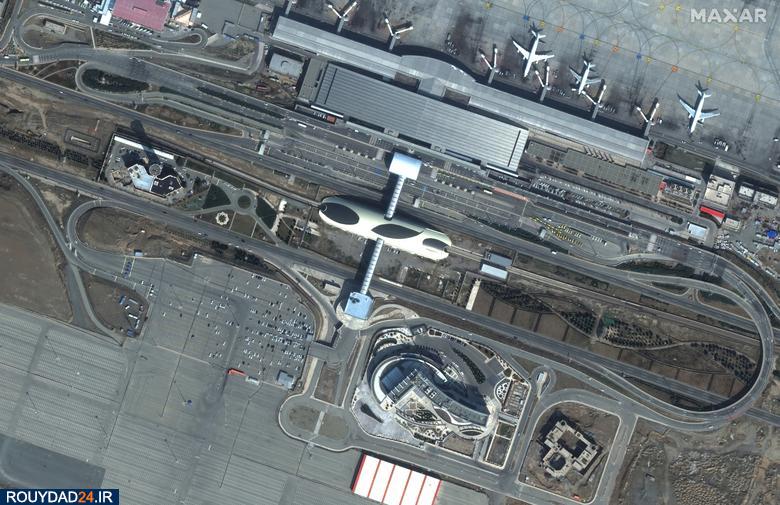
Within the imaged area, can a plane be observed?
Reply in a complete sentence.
Yes, the photo shows a plane.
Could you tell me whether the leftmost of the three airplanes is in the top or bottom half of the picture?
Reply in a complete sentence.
The top half of the photo is where the leftmost of the three airplanes is.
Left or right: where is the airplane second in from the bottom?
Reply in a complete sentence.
It is on the right.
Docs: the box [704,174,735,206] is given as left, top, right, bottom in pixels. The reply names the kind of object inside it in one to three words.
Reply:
building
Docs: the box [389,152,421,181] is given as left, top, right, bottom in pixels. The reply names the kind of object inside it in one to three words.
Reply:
building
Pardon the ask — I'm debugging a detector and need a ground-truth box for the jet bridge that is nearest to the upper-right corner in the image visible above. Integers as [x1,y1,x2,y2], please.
[636,102,659,136]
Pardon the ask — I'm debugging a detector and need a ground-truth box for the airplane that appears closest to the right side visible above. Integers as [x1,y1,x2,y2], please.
[679,92,720,133]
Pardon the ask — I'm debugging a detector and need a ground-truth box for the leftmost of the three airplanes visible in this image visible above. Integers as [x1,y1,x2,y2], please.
[512,31,555,76]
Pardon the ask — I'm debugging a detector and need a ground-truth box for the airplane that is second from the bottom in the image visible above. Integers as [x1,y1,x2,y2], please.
[570,61,603,94]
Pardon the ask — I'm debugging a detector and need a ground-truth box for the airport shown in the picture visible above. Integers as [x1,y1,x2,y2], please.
[262,0,780,178]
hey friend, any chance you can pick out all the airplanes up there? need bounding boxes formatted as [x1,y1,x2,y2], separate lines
[679,92,720,133]
[512,31,555,76]
[570,61,603,94]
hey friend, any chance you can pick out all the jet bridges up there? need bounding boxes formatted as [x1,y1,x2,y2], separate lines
[286,0,305,17]
[581,85,607,120]
[480,49,498,83]
[385,18,414,50]
[328,1,358,32]
[636,102,659,136]
[535,66,550,101]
